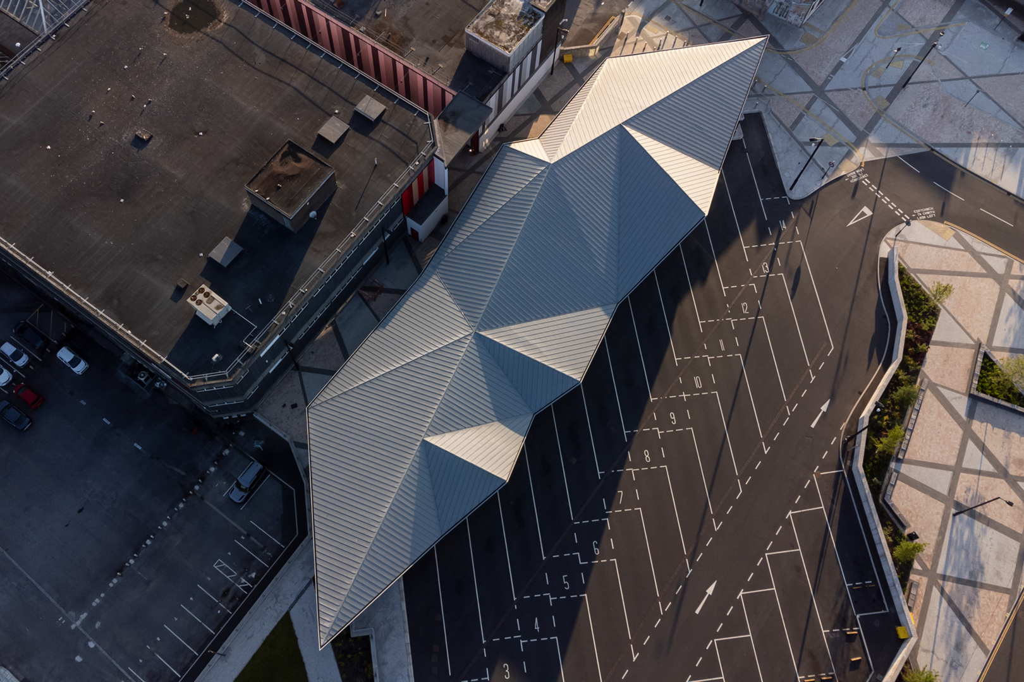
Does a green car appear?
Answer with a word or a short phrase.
No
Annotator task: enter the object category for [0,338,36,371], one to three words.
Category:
car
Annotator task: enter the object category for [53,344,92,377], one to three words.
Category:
car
